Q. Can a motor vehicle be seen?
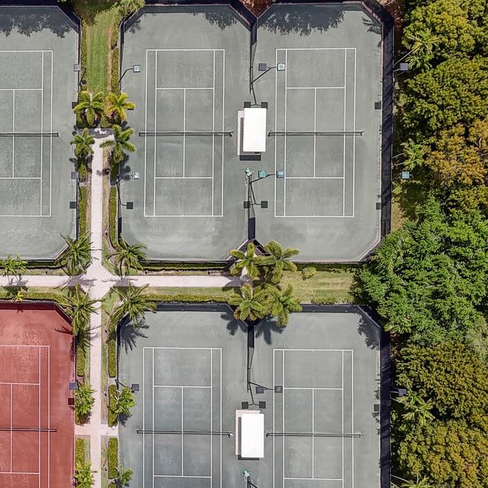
No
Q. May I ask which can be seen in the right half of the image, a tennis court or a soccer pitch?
tennis court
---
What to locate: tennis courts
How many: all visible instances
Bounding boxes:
[118,4,251,260]
[118,306,248,488]
[254,2,382,262]
[0,5,79,260]
[253,305,381,488]
[0,301,76,488]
